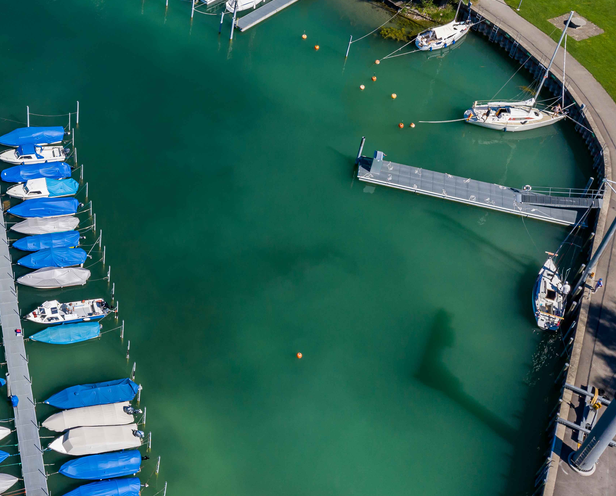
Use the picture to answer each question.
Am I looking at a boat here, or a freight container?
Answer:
boat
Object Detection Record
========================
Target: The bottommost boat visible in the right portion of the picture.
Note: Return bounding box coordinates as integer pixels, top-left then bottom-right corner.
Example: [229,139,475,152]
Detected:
[527,203,592,361]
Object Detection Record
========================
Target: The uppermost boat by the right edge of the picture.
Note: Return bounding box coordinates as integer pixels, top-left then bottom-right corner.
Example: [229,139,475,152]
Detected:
[423,8,599,138]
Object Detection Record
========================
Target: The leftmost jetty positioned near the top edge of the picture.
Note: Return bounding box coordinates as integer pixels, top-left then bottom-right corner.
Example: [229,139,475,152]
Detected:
[231,0,299,32]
